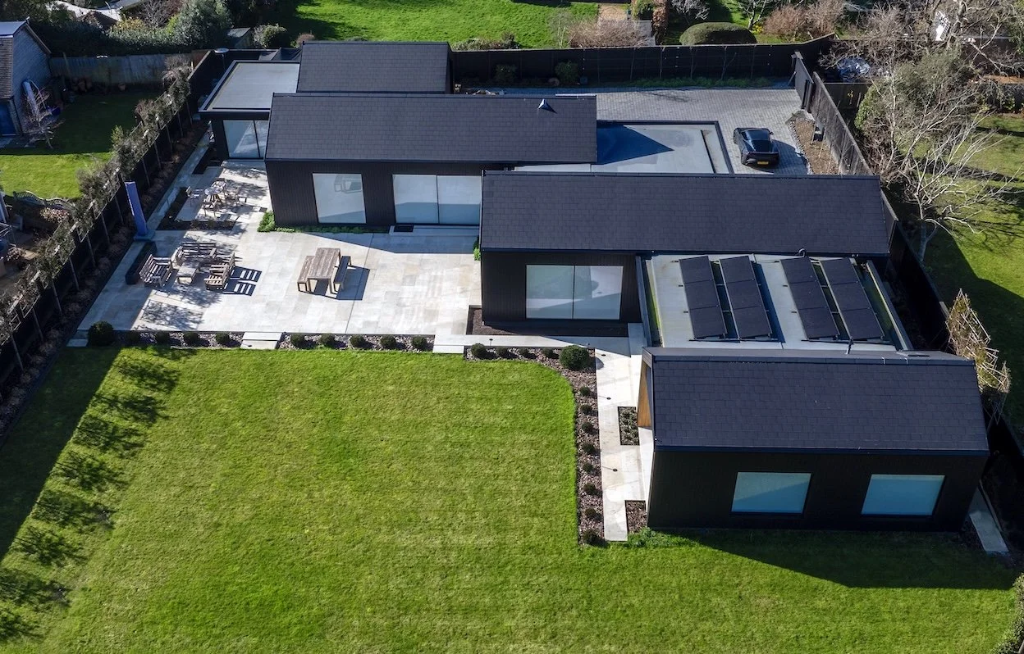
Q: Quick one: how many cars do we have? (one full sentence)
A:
Only 1 car is visible.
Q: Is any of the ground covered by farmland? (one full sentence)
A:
No, the picture contains no farmland.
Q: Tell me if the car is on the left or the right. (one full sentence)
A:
The car appears in the right half of the scene.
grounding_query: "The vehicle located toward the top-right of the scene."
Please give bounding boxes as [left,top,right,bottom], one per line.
[732,121,782,165]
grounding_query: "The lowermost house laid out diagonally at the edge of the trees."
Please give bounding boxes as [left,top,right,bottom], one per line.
[199,41,990,534]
